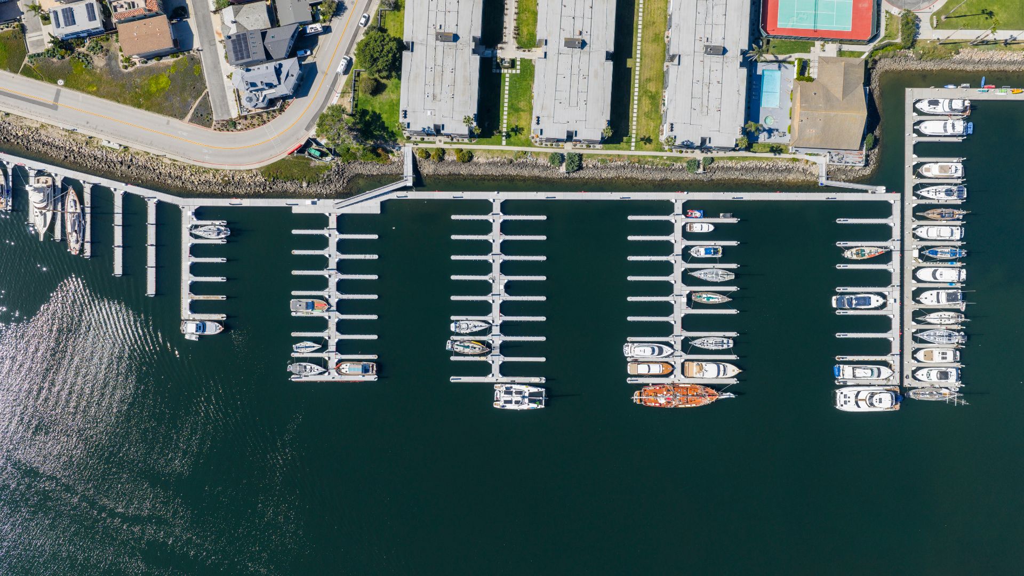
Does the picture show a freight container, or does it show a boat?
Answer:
boat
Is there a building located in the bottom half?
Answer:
No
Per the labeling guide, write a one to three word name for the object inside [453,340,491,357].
boat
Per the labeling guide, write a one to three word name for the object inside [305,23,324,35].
vehicle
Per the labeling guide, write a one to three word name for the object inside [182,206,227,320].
pier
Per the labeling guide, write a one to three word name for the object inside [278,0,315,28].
house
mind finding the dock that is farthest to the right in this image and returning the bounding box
[903,88,1024,387]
